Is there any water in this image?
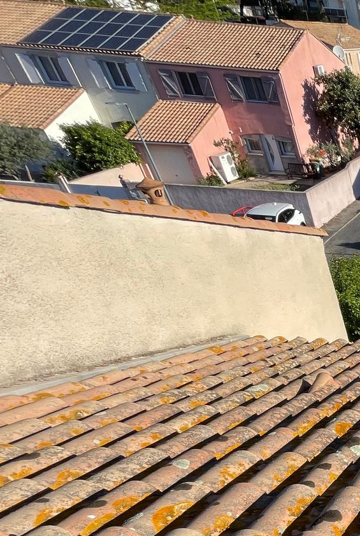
No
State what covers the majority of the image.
buildings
